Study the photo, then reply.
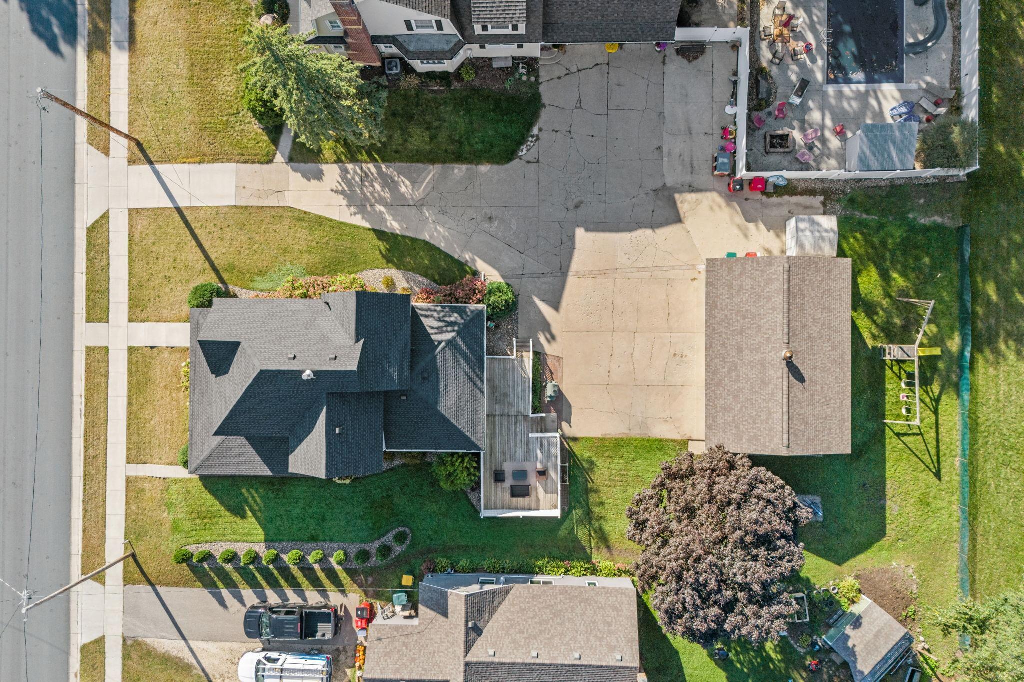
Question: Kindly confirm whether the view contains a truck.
Yes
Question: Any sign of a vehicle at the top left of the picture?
No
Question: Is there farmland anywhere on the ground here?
No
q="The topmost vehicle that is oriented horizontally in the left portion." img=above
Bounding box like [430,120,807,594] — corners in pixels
[244,602,345,644]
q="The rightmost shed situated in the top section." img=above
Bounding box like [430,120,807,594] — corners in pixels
[847,123,917,169]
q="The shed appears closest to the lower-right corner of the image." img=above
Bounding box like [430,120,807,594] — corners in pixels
[812,588,913,682]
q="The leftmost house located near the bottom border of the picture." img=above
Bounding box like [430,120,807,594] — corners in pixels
[363,569,642,682]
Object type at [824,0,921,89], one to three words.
swimming pool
